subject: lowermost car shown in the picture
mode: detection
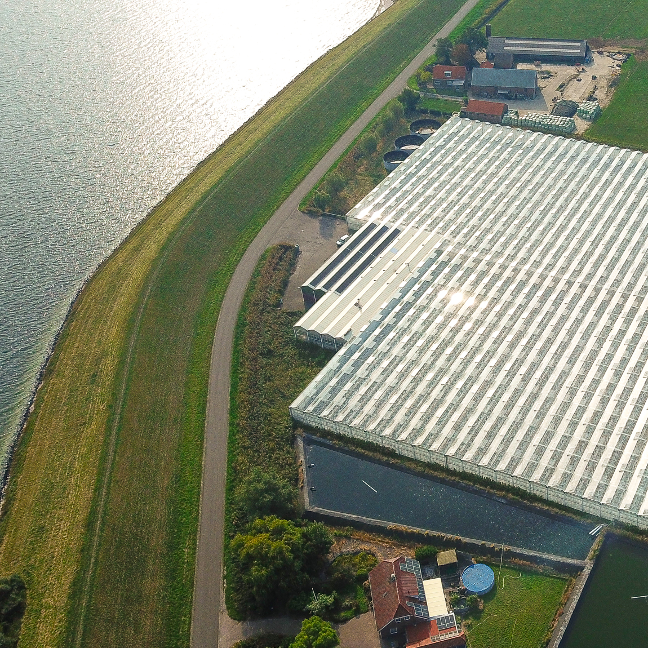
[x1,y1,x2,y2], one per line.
[335,233,349,246]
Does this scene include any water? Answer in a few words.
Yes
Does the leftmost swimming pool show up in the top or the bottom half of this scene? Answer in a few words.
bottom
